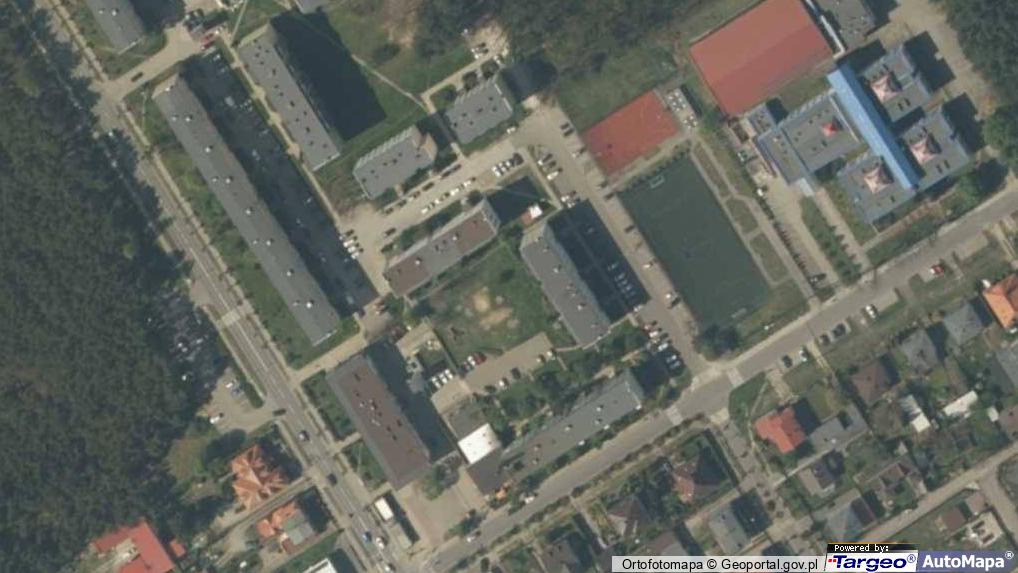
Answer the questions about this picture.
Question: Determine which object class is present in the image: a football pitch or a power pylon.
football pitch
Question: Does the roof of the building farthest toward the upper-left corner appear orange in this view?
No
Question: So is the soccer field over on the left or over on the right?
right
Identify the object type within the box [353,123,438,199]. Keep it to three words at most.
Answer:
building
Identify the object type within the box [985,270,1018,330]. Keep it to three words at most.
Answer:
house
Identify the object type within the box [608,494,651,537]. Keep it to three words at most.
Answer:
house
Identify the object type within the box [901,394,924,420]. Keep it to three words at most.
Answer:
shed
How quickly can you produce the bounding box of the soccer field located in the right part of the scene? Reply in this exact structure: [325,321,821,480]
[620,148,777,334]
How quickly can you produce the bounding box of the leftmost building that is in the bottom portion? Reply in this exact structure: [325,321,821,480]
[92,518,175,573]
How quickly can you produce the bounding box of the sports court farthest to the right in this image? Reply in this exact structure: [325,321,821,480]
[688,0,837,114]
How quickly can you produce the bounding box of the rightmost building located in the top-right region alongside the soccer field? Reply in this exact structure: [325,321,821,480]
[749,40,972,222]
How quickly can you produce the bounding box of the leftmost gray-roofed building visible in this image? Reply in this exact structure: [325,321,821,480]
[85,0,149,52]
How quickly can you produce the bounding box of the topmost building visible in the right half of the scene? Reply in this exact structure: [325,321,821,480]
[818,0,878,45]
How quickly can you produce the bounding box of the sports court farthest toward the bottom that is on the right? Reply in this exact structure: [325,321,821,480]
[582,90,681,177]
